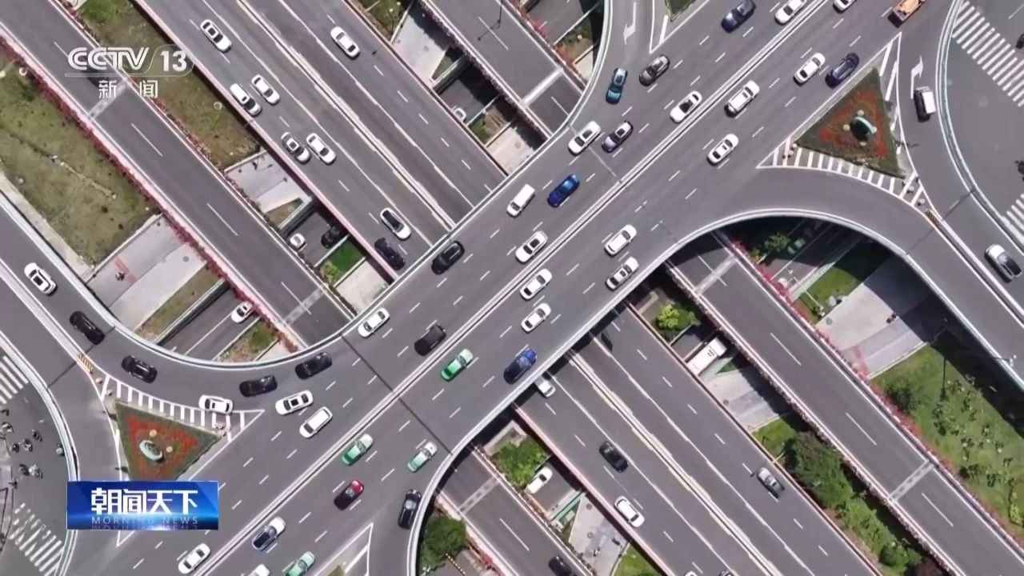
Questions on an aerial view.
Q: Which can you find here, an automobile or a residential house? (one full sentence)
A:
It is an automobile that can be seen here.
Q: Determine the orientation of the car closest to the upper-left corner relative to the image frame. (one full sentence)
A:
Seen from above, the car closest to the upper-left corner lies on a diagonal.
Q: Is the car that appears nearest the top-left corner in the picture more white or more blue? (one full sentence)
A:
From above, the car that appears nearest the top-left corner appears white.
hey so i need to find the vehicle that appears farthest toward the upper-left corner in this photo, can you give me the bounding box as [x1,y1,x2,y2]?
[199,17,234,54]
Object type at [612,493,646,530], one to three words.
car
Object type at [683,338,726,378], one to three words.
truck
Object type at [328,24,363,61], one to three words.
car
